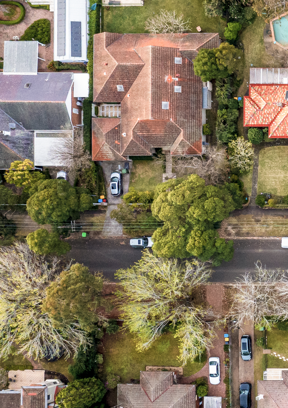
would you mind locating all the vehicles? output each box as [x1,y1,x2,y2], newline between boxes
[109,171,125,197]
[207,357,222,384]
[280,238,288,249]
[128,236,156,249]
[238,382,253,408]
[239,335,253,360]
[56,168,70,191]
